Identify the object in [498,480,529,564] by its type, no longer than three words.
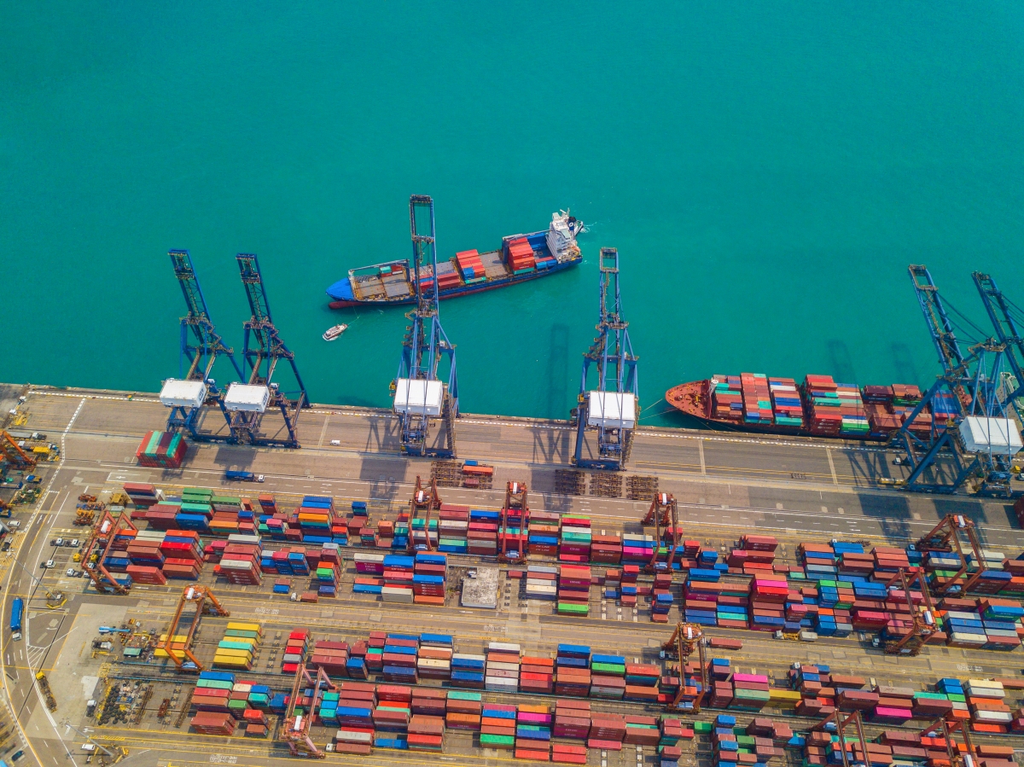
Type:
container crane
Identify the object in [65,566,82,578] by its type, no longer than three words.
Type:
vehicle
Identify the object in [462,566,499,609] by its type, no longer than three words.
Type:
building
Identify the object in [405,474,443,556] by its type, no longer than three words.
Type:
container crane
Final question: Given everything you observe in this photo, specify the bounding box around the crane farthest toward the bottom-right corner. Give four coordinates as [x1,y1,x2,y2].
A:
[903,715,974,767]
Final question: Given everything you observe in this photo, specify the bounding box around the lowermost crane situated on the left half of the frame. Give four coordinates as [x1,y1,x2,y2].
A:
[280,664,337,759]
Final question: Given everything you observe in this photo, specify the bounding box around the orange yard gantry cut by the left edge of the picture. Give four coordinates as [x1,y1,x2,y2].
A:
[0,437,33,469]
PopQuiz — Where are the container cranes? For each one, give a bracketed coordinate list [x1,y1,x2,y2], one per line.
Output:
[162,585,230,674]
[804,706,868,767]
[903,715,974,767]
[892,263,1024,501]
[642,490,680,575]
[159,251,243,447]
[955,266,1024,495]
[882,568,940,655]
[498,480,529,564]
[661,623,707,713]
[572,244,638,475]
[78,510,144,594]
[225,256,310,452]
[280,664,337,759]
[0,437,33,469]
[389,194,460,463]
[405,474,443,556]
[920,511,990,593]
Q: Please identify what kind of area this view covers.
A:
port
